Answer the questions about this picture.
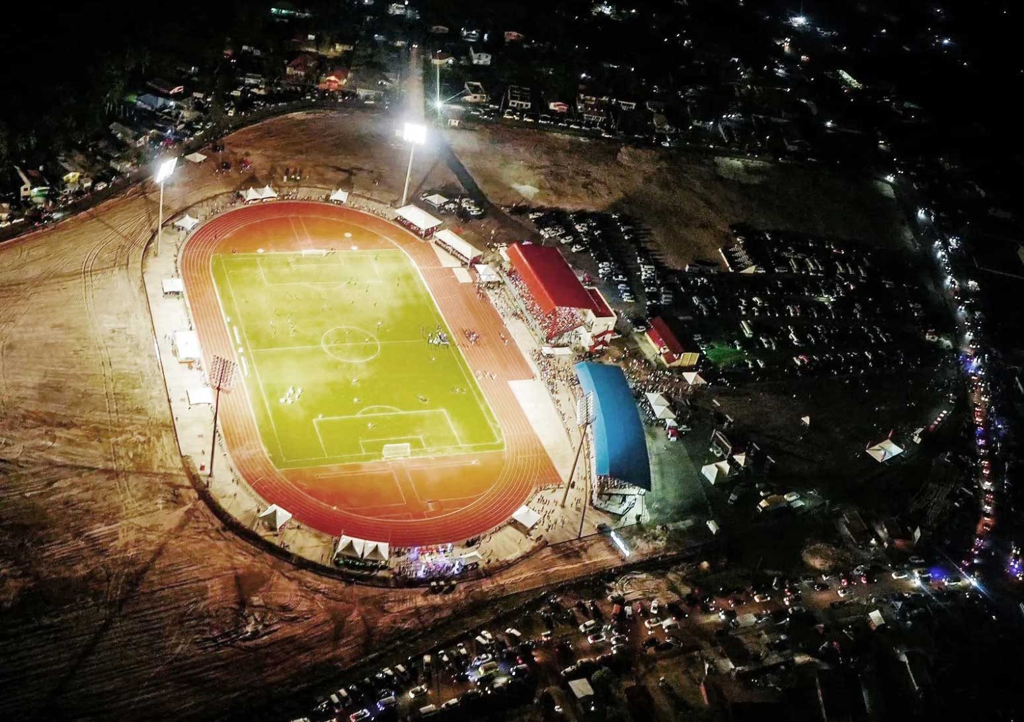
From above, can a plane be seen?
No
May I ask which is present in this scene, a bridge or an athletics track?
athletics track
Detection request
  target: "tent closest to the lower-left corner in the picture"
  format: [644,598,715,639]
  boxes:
[256,504,294,534]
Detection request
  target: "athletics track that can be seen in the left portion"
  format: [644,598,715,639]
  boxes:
[180,201,540,546]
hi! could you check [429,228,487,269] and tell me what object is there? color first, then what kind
white tent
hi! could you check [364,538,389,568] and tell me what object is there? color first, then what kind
white tent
